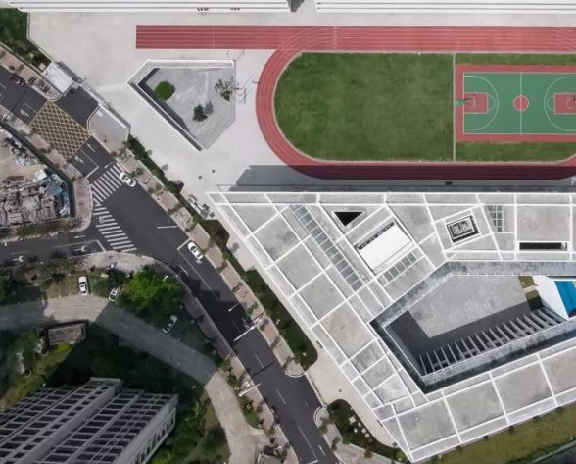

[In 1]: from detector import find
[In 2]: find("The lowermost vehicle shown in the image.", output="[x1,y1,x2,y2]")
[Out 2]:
[163,315,177,334]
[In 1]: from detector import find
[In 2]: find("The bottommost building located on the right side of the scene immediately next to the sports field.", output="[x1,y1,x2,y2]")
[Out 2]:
[206,191,576,464]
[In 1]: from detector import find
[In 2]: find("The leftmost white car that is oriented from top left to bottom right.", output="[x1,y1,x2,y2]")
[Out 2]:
[118,171,135,187]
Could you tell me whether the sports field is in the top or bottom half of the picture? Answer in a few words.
top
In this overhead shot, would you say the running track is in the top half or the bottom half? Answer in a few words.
top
